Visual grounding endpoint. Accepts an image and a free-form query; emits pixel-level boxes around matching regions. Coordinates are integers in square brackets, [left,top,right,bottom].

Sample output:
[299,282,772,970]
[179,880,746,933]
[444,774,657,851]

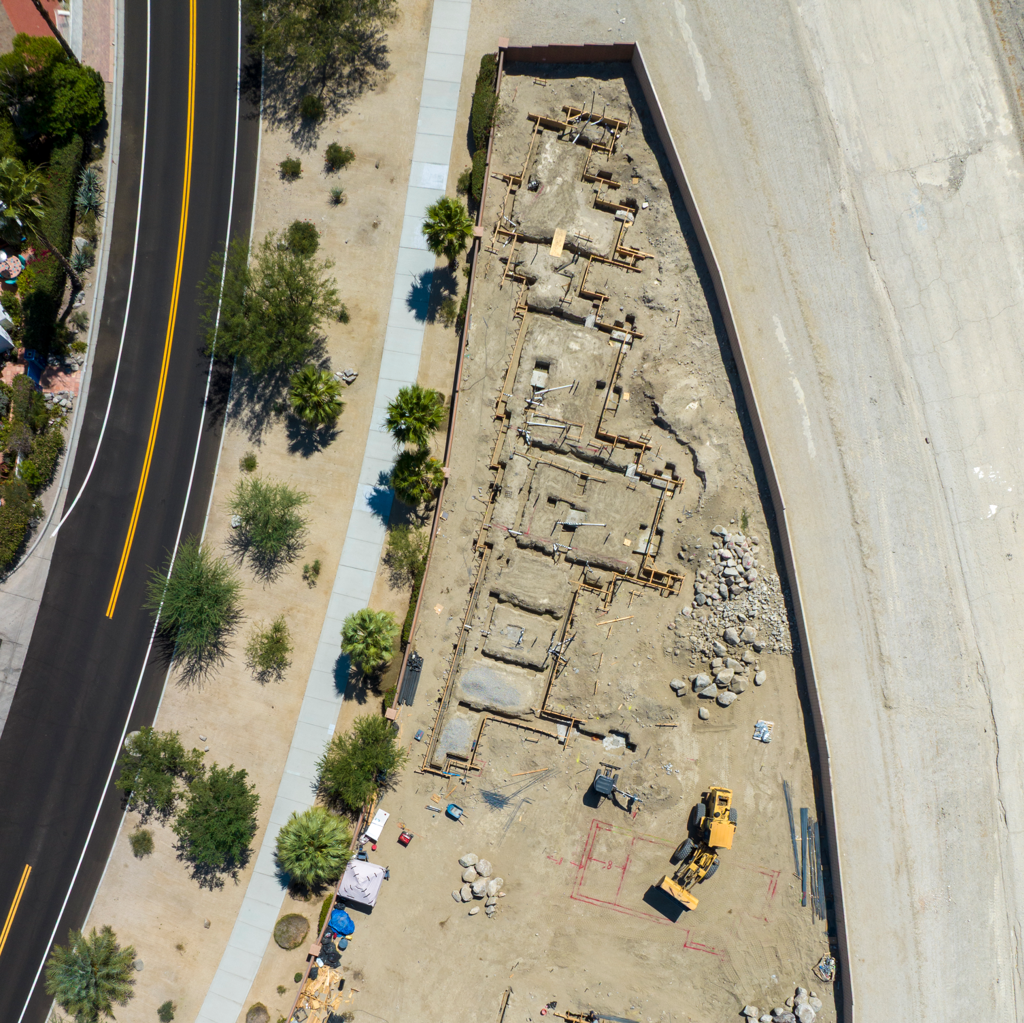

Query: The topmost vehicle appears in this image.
[591,761,642,802]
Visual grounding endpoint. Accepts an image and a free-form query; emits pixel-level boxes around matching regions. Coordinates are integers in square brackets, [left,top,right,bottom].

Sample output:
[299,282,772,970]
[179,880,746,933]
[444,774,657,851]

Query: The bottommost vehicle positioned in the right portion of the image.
[655,784,738,913]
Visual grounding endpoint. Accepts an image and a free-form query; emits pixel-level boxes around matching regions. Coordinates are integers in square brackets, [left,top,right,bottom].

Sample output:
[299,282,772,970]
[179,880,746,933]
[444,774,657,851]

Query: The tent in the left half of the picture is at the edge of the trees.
[337,853,389,906]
